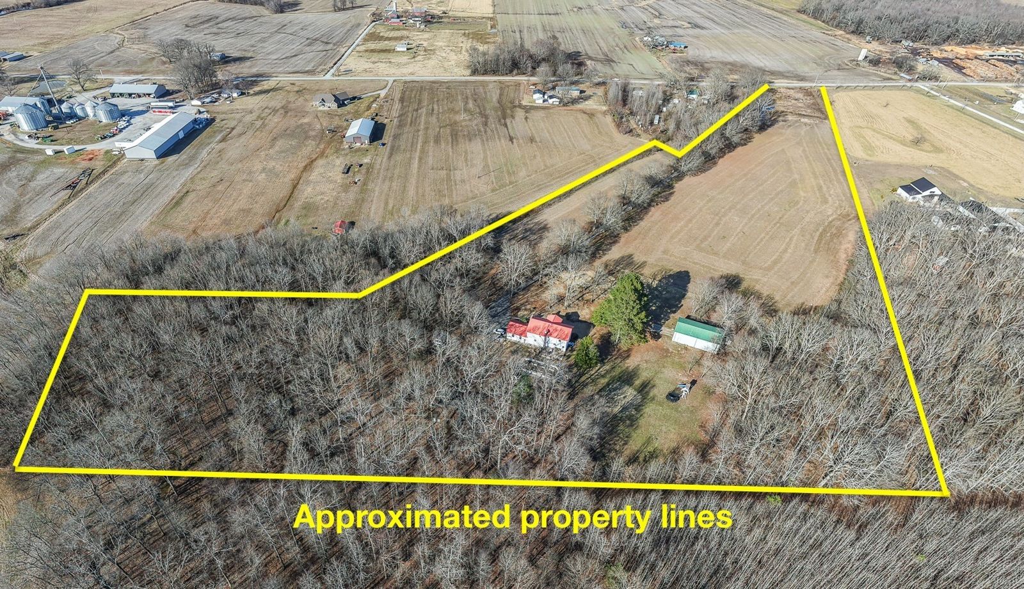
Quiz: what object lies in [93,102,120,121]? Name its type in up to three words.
silo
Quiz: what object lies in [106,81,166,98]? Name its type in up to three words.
shed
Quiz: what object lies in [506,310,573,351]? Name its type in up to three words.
house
